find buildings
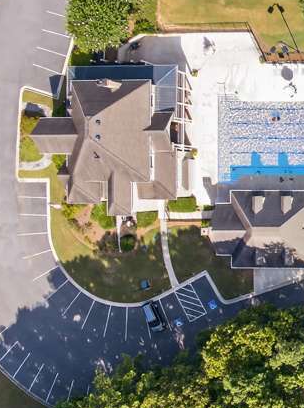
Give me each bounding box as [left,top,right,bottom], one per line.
[31,65,194,216]
[210,190,304,268]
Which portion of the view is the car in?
bottom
